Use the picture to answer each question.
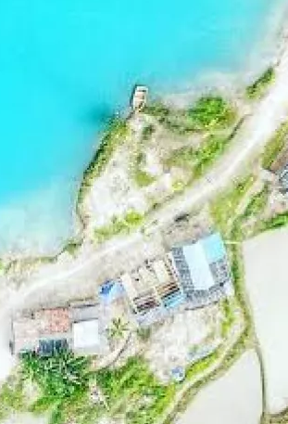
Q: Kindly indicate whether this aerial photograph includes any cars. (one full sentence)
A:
No, I find no car anywhere in the image.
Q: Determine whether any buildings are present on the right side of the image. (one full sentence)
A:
Yes, you'll find a building on the right side of the image.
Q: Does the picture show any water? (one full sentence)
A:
Yes, water shows up in the scene.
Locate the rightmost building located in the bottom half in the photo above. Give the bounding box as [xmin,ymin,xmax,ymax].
[170,233,234,301]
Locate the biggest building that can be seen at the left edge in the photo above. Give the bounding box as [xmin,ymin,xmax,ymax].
[13,305,70,356]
